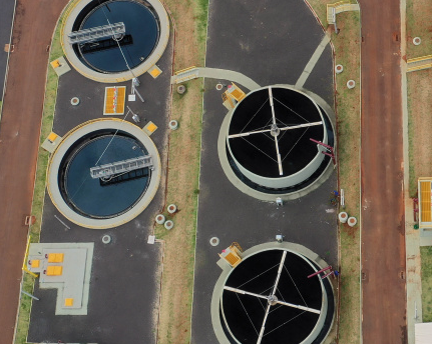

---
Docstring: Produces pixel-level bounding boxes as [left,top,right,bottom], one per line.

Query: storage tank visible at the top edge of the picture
[61,0,171,84]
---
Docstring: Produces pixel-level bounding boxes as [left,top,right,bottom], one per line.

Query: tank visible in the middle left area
[47,117,161,229]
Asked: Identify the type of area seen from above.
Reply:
industrial area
